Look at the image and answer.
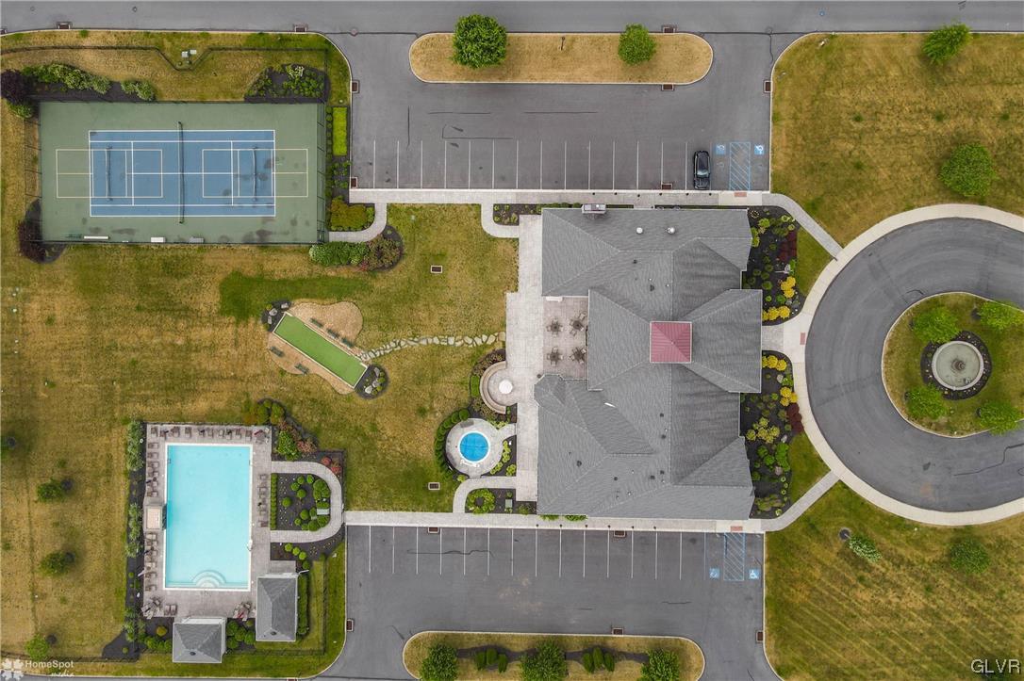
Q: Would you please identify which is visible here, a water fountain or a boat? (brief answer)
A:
water fountain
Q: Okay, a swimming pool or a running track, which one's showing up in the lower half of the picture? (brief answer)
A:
swimming pool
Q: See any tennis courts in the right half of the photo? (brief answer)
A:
No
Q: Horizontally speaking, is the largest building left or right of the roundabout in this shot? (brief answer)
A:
left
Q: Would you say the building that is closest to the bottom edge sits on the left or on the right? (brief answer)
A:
left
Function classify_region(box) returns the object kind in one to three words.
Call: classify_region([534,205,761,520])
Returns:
building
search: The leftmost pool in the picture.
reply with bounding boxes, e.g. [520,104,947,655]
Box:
[160,444,253,591]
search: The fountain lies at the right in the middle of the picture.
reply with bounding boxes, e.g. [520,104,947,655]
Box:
[933,340,988,392]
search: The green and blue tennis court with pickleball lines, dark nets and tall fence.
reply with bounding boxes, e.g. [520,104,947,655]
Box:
[40,101,326,243]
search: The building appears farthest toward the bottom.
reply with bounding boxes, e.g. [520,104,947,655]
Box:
[172,618,227,664]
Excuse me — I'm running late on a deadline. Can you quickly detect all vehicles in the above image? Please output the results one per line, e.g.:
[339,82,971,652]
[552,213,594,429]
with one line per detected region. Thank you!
[692,152,711,189]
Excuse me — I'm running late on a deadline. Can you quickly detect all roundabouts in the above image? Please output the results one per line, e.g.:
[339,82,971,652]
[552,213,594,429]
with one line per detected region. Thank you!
[805,217,1024,512]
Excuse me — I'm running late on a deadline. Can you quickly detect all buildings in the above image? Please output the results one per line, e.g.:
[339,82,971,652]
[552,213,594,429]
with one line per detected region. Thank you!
[534,205,761,520]
[255,573,300,642]
[172,618,227,664]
